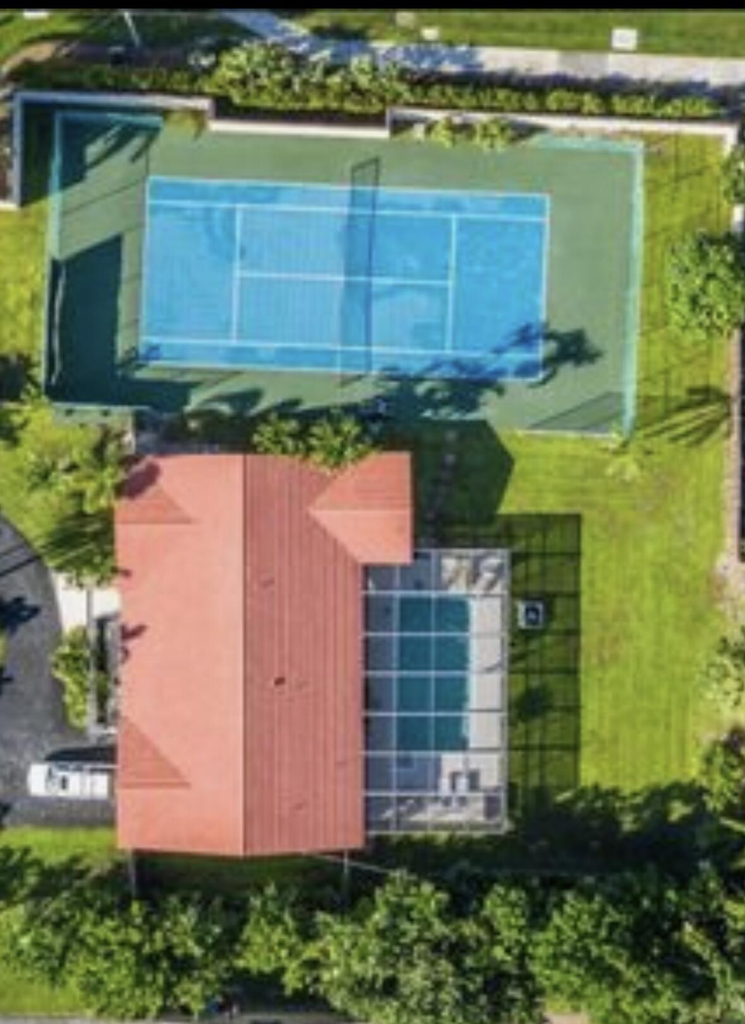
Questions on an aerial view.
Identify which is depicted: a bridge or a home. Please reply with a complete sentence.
It is a home that can be seen here.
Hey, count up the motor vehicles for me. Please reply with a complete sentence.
Altogether the scene contains 1 motor vehicle.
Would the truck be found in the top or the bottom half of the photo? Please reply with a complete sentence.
The truck sits in the bottom half of the picture.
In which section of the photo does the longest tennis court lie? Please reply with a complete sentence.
Look in the top portion of the view to spot the longest tennis court.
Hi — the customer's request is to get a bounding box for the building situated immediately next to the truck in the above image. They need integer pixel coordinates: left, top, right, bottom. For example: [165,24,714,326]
[112,452,411,856]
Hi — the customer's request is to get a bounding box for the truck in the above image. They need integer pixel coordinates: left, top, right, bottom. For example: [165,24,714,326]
[28,761,113,801]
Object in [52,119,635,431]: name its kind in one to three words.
tennis court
